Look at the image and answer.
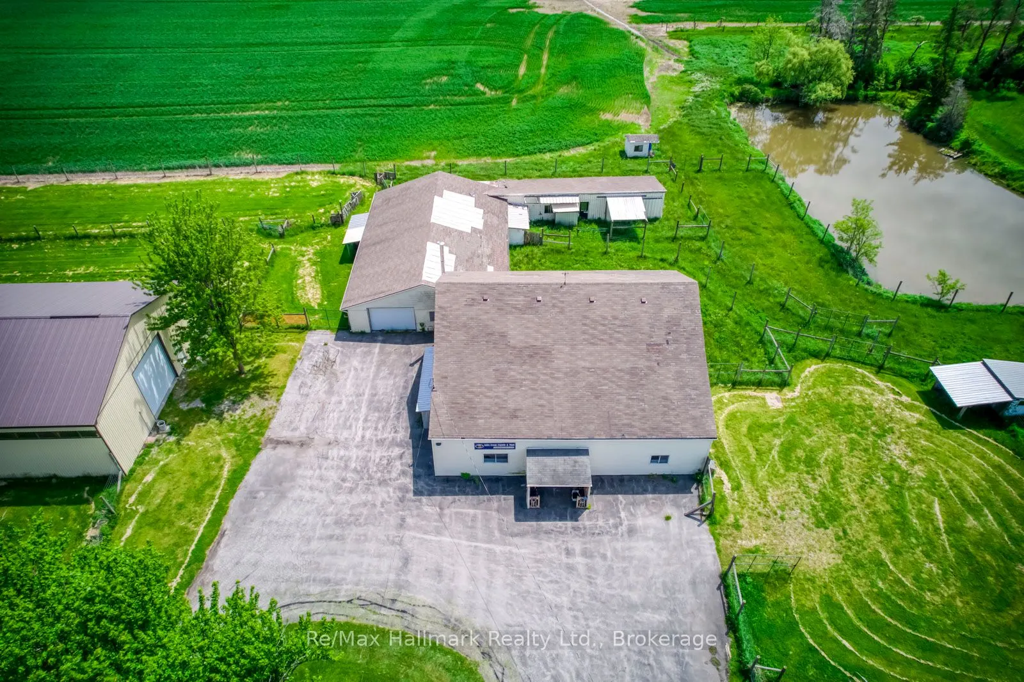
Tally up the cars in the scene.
0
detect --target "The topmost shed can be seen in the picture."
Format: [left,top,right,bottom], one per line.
[623,131,660,157]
